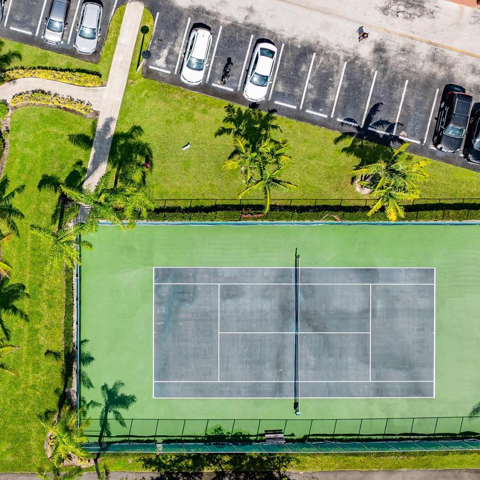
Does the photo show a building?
No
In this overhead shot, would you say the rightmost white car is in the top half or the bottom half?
top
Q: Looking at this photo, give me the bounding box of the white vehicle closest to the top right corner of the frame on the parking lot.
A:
[244,43,278,102]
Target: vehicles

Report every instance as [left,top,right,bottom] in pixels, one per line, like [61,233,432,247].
[222,61,231,87]
[181,26,214,86]
[434,89,474,154]
[244,43,278,102]
[44,0,71,47]
[73,0,103,56]
[464,111,480,165]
